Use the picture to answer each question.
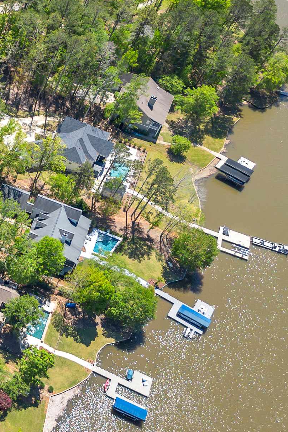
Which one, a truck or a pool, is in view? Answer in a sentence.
The one in the frame is a pool.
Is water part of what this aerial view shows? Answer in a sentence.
Yes, some water is visible.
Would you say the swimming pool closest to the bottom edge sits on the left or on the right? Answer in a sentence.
The swimming pool closest to the bottom edge sits on the left side.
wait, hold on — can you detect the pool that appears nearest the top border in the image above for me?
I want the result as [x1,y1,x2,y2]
[112,146,141,190]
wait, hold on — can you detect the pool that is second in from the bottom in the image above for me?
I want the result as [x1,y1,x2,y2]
[80,227,123,260]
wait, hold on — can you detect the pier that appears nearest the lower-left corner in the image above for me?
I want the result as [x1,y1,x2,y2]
[93,366,153,426]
